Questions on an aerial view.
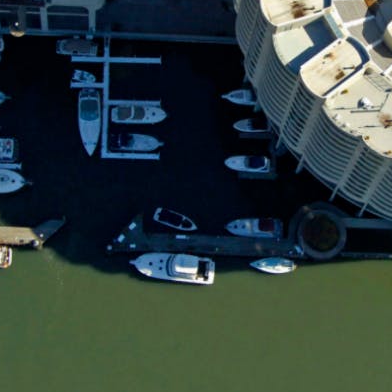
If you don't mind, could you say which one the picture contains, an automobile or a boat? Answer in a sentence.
I can see a boat in this picture.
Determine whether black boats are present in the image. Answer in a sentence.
Yes, I can see a black boat in this picture.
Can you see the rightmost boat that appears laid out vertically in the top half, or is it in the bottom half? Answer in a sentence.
Seen from above, the rightmost boat that appears laid out vertically lies in the top half of the view.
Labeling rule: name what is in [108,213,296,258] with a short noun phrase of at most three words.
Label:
pier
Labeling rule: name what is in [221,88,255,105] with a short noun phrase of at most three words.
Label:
boat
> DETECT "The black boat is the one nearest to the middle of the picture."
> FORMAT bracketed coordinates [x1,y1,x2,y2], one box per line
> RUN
[152,205,196,230]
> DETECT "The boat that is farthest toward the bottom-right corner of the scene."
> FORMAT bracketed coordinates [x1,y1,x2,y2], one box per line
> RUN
[250,257,296,273]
